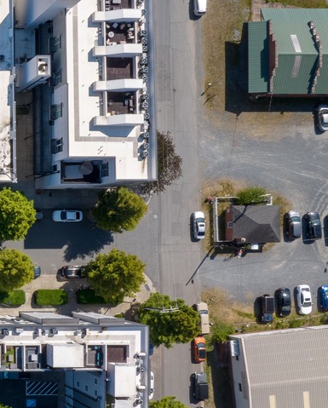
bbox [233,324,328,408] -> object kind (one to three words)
building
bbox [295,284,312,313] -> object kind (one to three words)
car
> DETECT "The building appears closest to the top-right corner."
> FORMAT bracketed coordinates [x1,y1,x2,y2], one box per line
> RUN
[236,9,328,98]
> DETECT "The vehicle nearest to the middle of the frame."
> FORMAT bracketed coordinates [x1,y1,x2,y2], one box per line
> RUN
[191,211,207,241]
